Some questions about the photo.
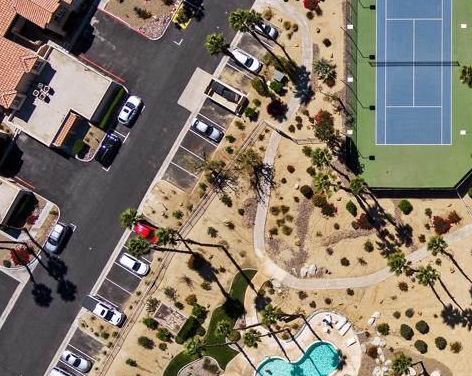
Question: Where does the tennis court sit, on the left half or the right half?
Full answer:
The tennis court is on the right side of the image.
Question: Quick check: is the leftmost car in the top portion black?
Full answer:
Yes, the leftmost car in the top portion appears black.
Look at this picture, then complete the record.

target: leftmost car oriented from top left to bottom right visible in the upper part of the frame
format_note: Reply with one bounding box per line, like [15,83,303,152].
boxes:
[191,118,225,144]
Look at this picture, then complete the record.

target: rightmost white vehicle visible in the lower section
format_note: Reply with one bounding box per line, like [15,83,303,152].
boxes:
[118,252,150,277]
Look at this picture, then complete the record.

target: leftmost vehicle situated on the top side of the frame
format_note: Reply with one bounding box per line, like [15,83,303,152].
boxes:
[96,132,122,166]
